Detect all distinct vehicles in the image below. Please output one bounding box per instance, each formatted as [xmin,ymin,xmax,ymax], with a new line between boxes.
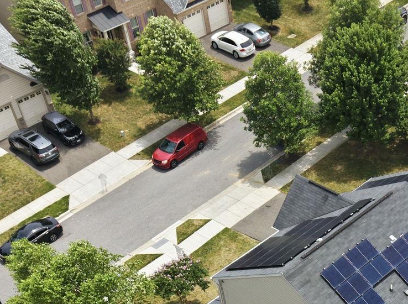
[6,126,62,167]
[227,22,275,50]
[0,218,73,271]
[149,125,215,176]
[33,109,86,149]
[211,33,258,63]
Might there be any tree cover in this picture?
Yes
